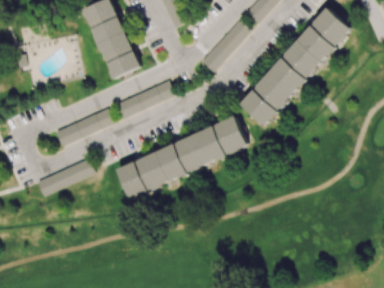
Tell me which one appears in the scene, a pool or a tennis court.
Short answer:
pool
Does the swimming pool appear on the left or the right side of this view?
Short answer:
left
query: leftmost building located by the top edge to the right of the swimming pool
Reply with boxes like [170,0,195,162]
[83,0,141,82]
